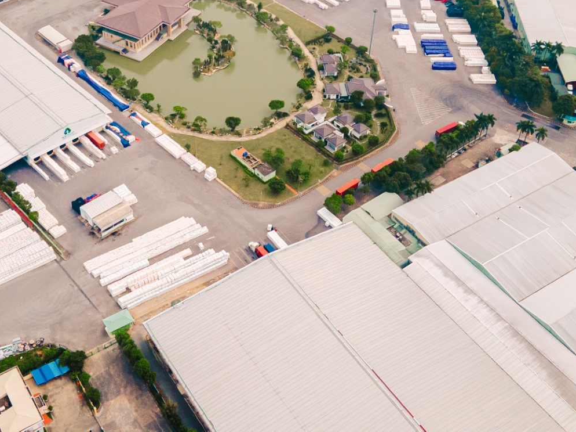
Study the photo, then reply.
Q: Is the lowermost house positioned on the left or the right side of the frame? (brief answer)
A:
left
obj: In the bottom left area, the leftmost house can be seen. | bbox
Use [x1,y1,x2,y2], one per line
[0,368,43,432]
